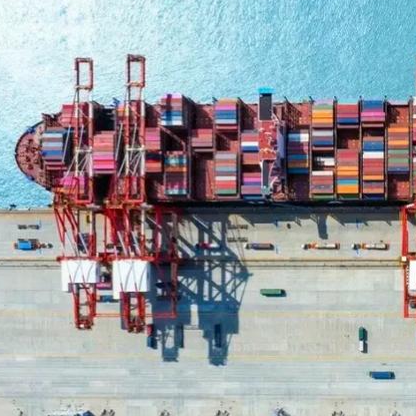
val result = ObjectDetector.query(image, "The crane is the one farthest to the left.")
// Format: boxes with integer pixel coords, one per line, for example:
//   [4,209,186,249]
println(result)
[52,57,136,335]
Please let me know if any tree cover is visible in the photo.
No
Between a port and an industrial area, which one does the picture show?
port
